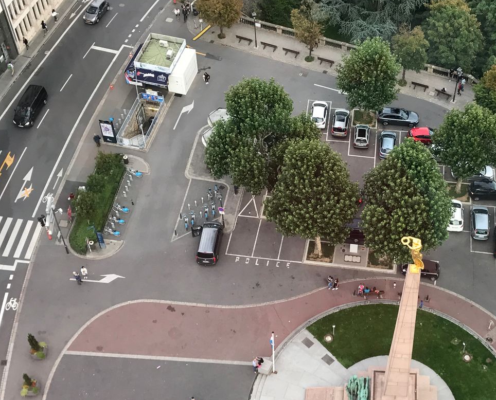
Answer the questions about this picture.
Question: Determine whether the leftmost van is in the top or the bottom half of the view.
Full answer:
The top half of the photo is where the leftmost van is.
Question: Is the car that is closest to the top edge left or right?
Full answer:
The car that is closest to the top edge appears in the left half of the scene.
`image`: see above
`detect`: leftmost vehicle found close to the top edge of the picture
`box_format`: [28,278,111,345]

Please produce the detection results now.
[80,0,113,26]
